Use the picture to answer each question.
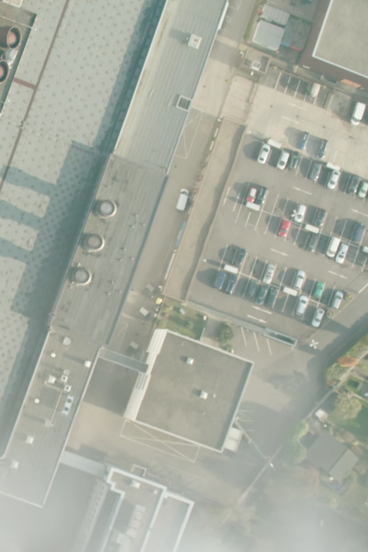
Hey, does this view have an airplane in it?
No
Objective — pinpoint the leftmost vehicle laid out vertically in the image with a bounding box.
[174,189,189,211]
